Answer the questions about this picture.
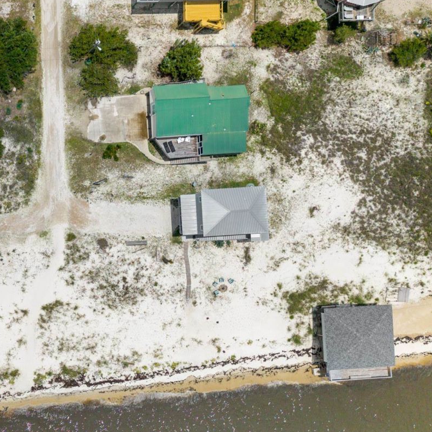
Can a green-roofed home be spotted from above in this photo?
Yes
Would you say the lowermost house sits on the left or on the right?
right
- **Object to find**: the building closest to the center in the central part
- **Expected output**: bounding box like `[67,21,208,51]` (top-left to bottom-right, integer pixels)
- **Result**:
[172,186,269,242]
